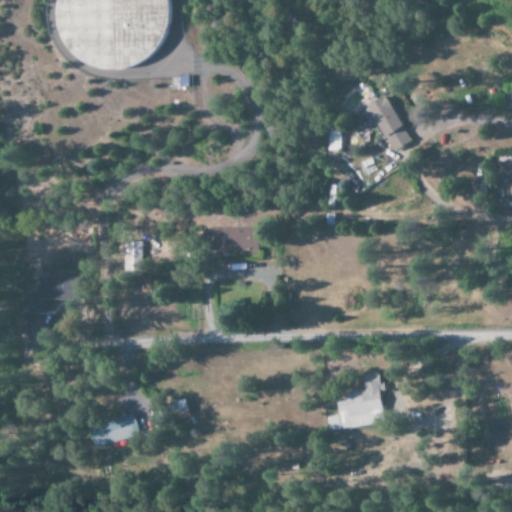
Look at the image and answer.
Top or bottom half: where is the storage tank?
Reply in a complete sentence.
The storage tank sits in the top half of the picture.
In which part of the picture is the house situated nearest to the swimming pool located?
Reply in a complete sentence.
The house situated nearest to the swimming pool is located in the top right region of the scene.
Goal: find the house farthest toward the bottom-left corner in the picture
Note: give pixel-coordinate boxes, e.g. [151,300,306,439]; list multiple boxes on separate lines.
[90,414,140,446]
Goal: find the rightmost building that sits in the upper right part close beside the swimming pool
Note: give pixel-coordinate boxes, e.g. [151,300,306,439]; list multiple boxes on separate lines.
[368,95,412,154]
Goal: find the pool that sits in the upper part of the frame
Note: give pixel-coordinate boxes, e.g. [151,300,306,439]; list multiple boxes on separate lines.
[346,90,364,110]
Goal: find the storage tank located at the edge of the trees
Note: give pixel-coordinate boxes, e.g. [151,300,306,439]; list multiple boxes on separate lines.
[56,0,172,68]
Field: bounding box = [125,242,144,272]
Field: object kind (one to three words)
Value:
house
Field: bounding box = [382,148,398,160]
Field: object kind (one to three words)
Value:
vehicle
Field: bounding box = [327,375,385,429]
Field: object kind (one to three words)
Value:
house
